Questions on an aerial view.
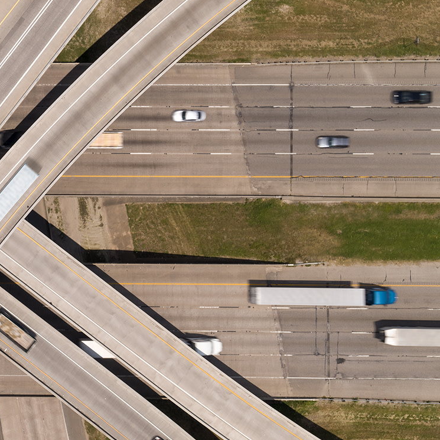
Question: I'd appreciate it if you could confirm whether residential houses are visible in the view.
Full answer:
No, the picture doesn't show any residential house.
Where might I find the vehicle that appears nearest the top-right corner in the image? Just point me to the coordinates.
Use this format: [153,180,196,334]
[392,90,431,104]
